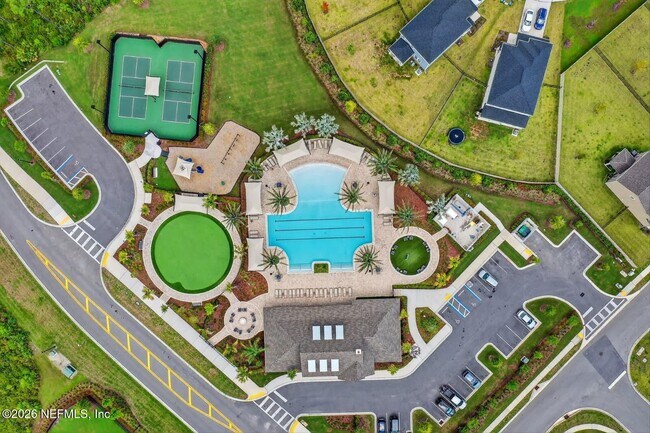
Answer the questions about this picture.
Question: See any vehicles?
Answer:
Yes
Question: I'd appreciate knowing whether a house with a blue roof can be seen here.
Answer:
Yes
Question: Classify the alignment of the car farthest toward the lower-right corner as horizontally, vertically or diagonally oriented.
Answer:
diagonally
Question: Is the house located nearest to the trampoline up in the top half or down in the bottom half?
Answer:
top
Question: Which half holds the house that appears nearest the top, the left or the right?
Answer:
right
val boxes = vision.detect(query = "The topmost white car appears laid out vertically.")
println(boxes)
[521,8,534,32]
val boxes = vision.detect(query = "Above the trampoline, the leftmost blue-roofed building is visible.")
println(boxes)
[388,0,478,68]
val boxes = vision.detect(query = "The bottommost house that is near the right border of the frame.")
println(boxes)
[600,145,650,227]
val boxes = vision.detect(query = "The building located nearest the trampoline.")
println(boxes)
[475,33,553,130]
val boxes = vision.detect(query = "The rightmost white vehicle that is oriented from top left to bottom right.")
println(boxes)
[515,309,537,329]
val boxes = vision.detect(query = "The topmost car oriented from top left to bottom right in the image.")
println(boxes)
[477,269,500,289]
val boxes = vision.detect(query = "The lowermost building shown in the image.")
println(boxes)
[263,298,402,382]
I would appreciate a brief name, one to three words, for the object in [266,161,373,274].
swimming pool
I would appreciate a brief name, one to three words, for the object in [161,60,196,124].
sports court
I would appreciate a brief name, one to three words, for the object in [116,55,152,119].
sports court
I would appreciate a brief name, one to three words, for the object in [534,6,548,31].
vehicle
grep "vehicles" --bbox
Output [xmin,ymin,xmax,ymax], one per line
[434,395,456,416]
[521,8,534,32]
[377,416,387,433]
[440,383,467,410]
[534,6,548,31]
[515,309,537,329]
[460,369,482,389]
[389,414,400,433]
[477,269,500,289]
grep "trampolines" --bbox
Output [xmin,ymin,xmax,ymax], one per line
[448,128,465,145]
